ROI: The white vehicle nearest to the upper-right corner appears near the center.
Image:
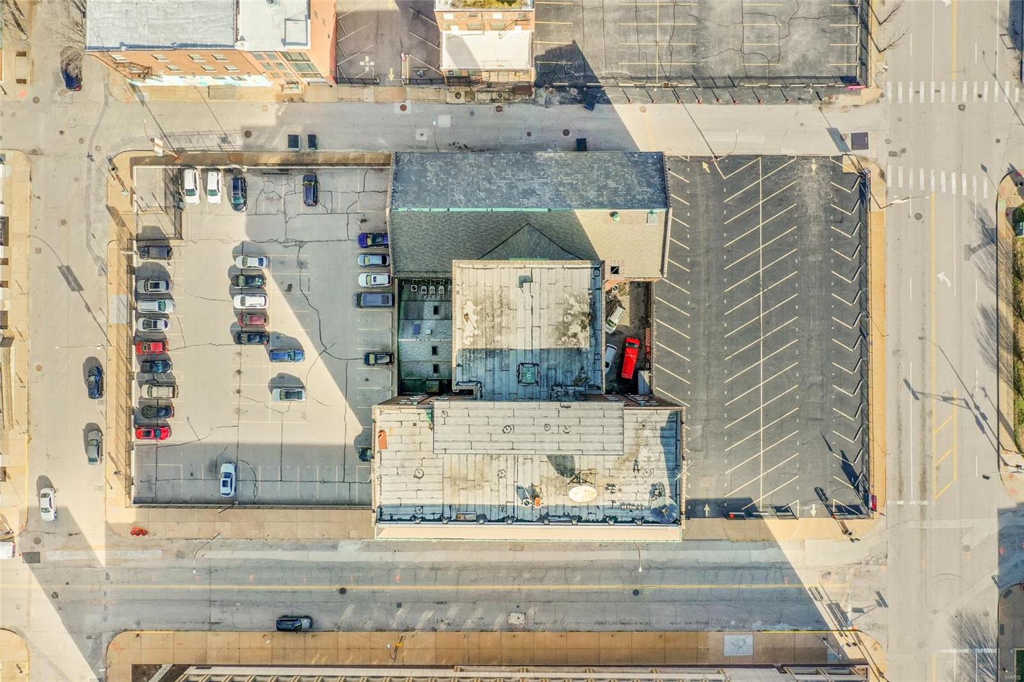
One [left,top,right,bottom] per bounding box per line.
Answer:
[604,300,627,333]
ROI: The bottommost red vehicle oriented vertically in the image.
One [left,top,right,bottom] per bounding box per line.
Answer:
[620,337,641,379]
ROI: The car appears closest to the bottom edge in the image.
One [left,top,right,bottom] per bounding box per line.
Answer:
[277,615,311,632]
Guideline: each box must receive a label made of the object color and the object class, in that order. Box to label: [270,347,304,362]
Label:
blue car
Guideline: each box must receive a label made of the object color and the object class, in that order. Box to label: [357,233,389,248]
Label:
blue car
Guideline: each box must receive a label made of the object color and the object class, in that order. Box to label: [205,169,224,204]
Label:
white car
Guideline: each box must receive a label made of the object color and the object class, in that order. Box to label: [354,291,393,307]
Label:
blue vehicle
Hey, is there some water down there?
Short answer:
No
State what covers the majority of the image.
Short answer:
paved ground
